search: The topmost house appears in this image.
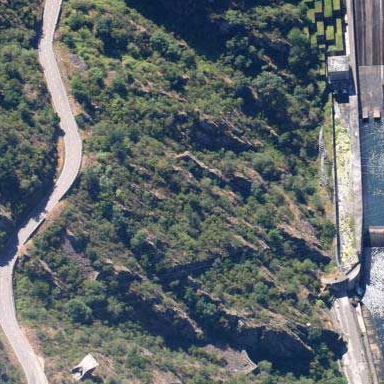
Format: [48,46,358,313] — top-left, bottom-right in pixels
[328,56,350,85]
